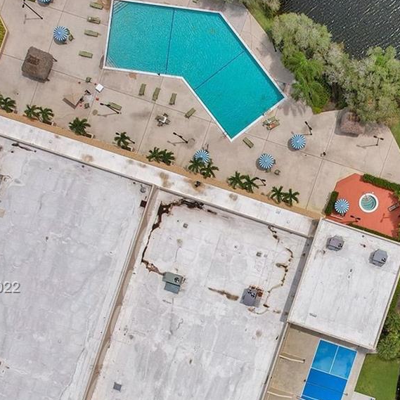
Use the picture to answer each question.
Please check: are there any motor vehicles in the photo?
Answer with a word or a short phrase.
No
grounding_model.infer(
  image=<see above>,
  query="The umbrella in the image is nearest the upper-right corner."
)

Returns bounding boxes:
[290,134,307,151]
